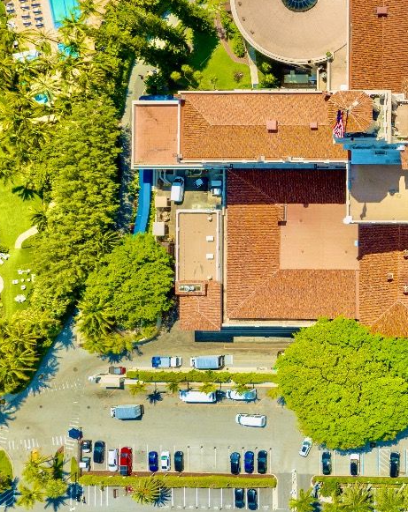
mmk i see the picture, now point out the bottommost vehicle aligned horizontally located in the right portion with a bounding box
[237,411,270,427]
